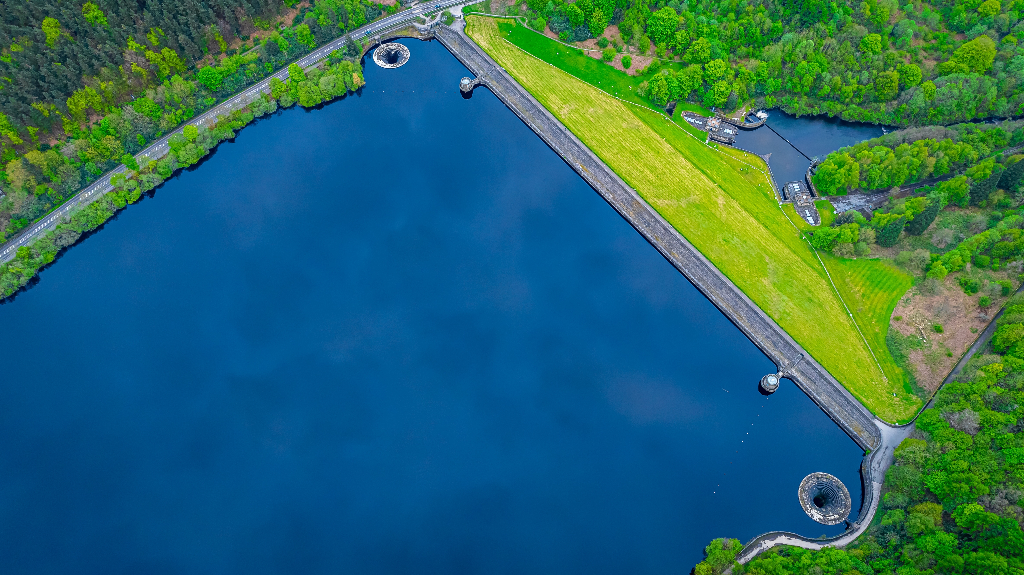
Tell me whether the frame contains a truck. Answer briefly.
No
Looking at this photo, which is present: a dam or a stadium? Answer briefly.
dam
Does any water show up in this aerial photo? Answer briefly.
Yes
